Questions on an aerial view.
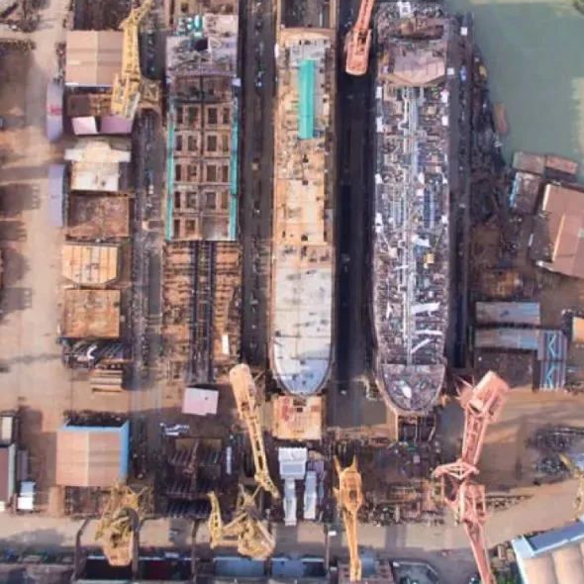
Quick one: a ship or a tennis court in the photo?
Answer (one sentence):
The one in the frame is a ship.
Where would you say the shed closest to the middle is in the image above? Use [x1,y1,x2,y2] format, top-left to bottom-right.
[183,386,217,416]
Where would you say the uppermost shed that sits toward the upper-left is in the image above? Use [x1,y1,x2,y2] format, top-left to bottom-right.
[66,28,129,89]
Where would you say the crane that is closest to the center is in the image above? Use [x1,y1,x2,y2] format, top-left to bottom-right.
[226,367,277,497]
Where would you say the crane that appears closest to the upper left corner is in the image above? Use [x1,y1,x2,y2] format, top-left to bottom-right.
[112,1,157,109]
